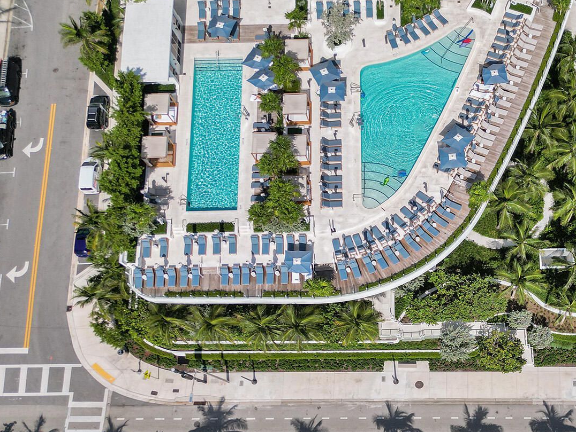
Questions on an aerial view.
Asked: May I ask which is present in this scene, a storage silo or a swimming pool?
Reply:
swimming pool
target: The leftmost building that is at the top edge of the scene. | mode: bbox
[120,0,182,98]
